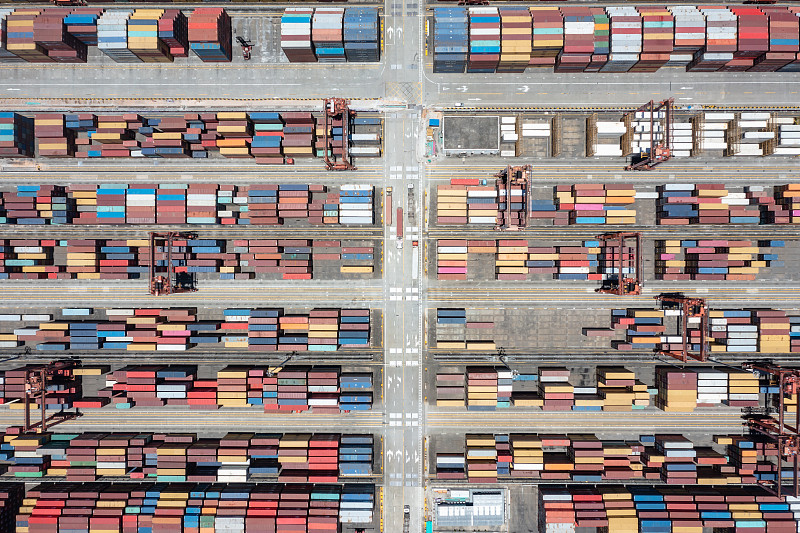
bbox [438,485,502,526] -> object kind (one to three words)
building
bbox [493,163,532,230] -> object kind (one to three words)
container crane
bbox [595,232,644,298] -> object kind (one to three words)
container crane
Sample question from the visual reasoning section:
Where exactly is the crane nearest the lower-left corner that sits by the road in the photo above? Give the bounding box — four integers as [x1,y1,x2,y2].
[21,360,84,435]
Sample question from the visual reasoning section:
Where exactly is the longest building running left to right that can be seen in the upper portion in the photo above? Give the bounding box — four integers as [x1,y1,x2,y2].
[420,116,511,155]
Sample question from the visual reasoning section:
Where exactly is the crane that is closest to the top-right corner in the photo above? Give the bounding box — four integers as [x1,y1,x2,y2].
[622,95,676,169]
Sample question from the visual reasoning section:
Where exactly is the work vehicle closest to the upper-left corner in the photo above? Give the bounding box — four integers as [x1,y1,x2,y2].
[236,34,251,61]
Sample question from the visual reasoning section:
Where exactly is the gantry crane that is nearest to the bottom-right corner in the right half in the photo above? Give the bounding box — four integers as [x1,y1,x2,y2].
[738,421,800,503]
